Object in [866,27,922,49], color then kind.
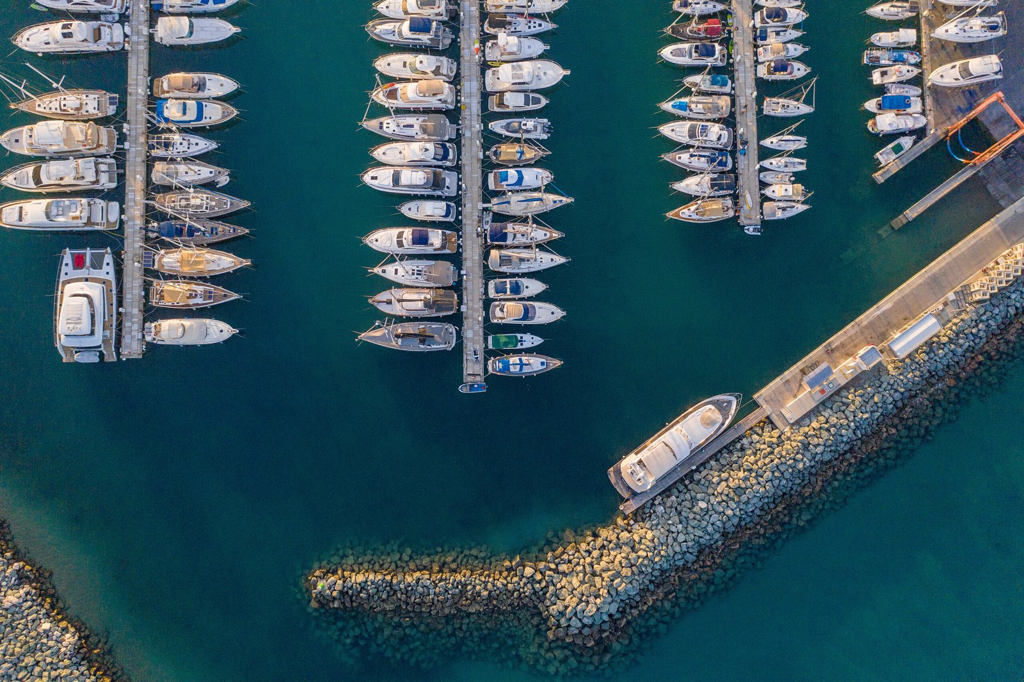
white boat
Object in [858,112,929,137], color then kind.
white boat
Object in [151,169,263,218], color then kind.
gray boat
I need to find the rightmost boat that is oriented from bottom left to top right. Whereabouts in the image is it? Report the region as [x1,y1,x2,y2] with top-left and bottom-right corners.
[869,131,919,167]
